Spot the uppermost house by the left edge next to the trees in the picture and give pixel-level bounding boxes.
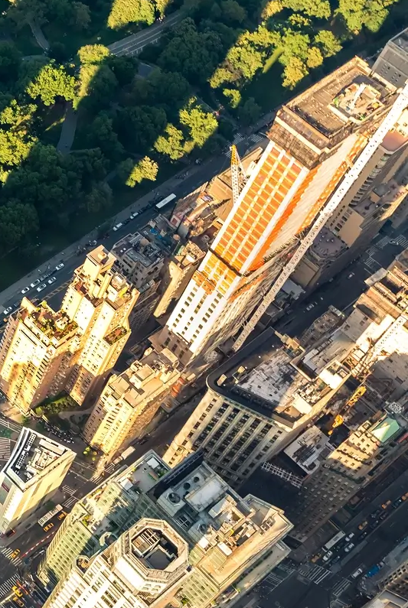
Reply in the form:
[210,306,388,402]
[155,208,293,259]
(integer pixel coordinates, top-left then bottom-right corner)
[0,239,138,407]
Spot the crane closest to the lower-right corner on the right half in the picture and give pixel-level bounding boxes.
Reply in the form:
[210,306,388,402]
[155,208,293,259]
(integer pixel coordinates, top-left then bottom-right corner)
[324,385,369,441]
